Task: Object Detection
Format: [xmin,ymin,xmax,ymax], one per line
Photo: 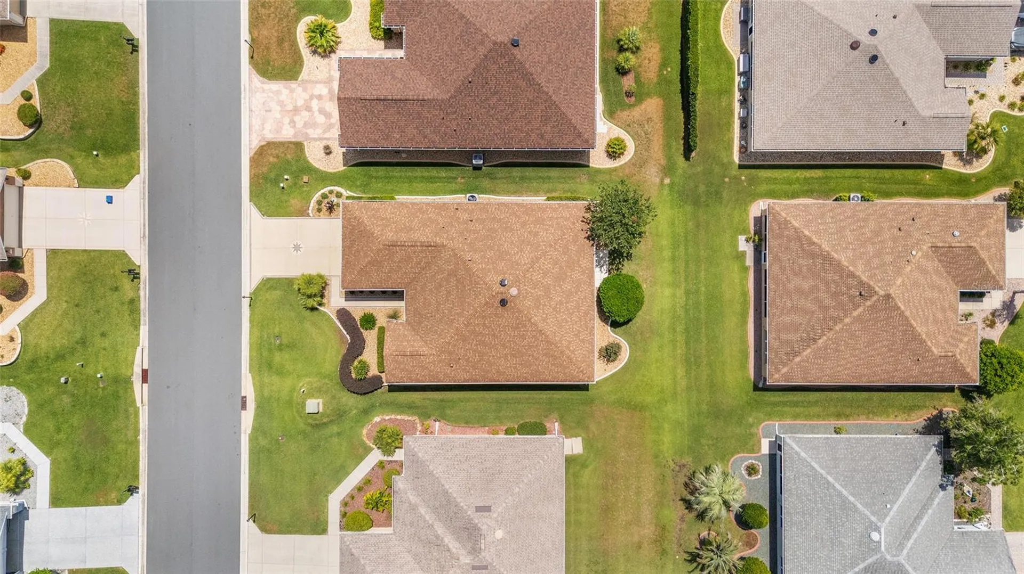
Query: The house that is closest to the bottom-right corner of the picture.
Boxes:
[776,434,1017,574]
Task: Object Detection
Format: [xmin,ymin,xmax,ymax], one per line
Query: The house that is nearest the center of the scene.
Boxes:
[340,200,596,385]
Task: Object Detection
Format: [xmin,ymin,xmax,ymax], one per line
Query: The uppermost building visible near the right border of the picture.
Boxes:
[747,0,1024,154]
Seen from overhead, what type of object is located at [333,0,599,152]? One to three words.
house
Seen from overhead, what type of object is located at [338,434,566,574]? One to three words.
house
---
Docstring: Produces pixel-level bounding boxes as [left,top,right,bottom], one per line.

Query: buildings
[338,434,566,574]
[0,499,28,574]
[776,434,1017,574]
[0,168,29,261]
[0,0,31,25]
[762,199,1008,386]
[340,200,596,385]
[333,0,599,152]
[747,0,1024,154]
